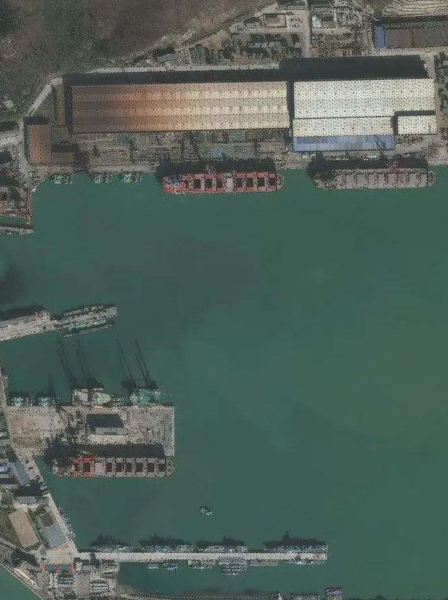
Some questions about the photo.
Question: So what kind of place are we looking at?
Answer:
port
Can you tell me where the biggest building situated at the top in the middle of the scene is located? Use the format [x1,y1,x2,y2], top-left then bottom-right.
[73,80,289,132]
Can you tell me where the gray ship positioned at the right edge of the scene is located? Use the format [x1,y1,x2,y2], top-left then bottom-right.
[315,168,437,189]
